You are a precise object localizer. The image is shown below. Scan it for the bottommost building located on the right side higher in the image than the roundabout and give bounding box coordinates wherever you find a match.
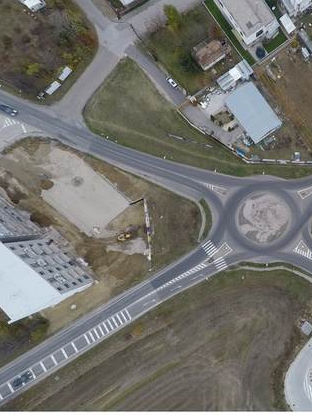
[224,81,281,147]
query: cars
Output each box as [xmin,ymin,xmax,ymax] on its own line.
[0,104,19,116]
[165,76,179,90]
[13,371,34,387]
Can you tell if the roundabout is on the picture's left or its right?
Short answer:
right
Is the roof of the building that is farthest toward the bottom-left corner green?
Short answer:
No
